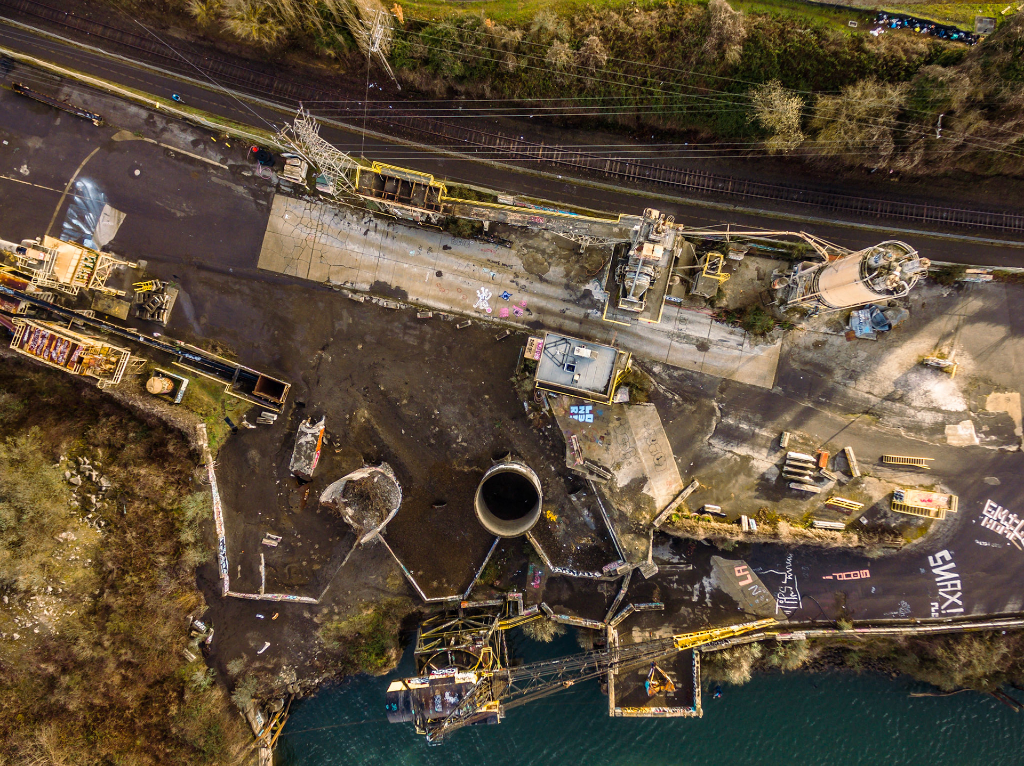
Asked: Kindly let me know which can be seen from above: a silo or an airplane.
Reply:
silo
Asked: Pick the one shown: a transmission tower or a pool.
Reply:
transmission tower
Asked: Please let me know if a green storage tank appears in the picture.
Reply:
No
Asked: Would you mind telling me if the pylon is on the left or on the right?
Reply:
left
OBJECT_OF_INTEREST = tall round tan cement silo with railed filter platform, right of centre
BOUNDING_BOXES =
[780,229,944,321]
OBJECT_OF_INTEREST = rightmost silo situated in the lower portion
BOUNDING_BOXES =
[473,457,544,535]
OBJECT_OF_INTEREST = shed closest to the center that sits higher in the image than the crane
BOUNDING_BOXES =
[535,332,634,406]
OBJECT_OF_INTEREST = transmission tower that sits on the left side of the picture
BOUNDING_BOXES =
[284,101,374,199]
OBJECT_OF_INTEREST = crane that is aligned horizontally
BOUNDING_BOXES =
[385,600,780,747]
